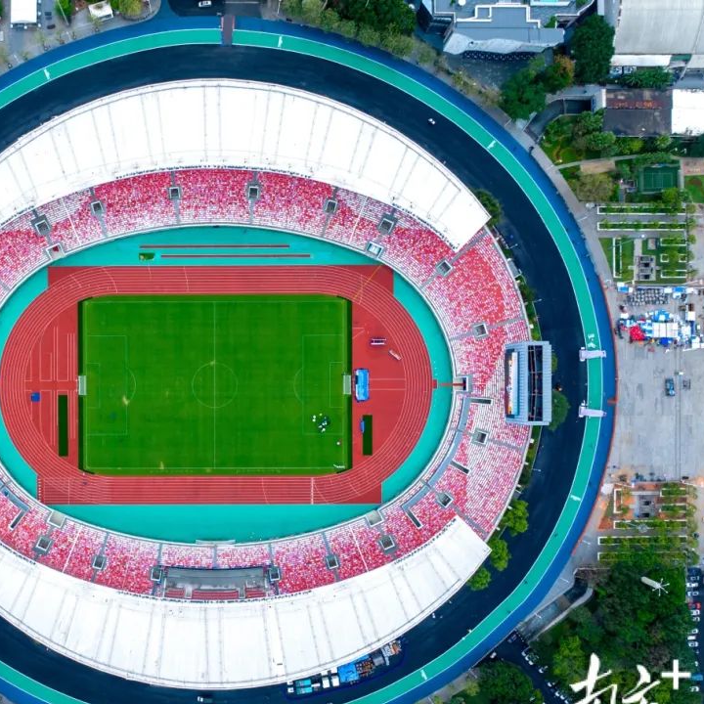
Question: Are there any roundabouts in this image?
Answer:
No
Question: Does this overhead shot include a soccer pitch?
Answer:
Yes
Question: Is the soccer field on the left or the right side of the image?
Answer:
left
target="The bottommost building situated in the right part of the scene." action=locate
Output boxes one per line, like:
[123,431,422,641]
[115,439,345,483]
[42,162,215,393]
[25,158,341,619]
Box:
[637,495,658,518]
